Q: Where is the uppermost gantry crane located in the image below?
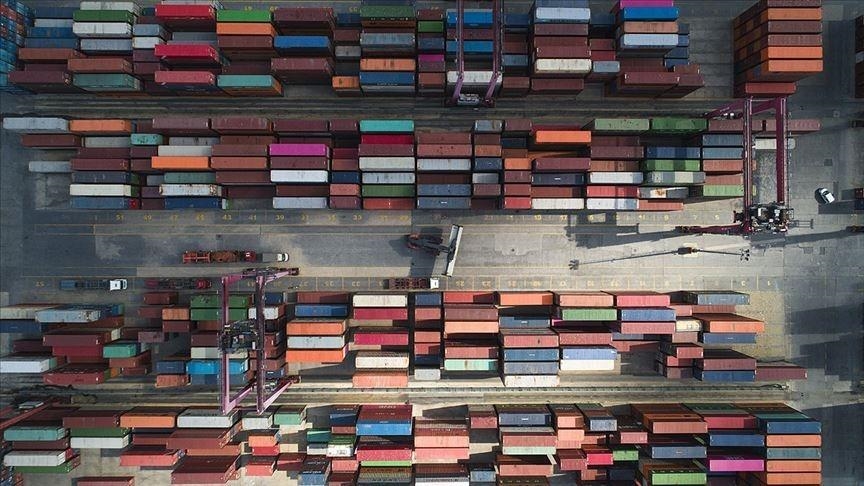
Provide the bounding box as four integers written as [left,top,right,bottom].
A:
[438,0,504,105]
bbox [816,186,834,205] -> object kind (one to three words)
car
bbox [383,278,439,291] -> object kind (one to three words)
vehicle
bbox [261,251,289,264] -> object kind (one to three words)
vehicle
